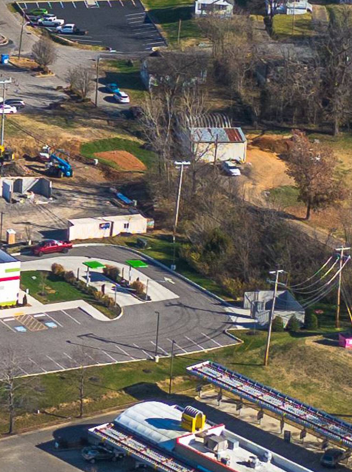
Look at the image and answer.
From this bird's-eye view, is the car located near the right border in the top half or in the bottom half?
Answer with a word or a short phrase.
bottom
